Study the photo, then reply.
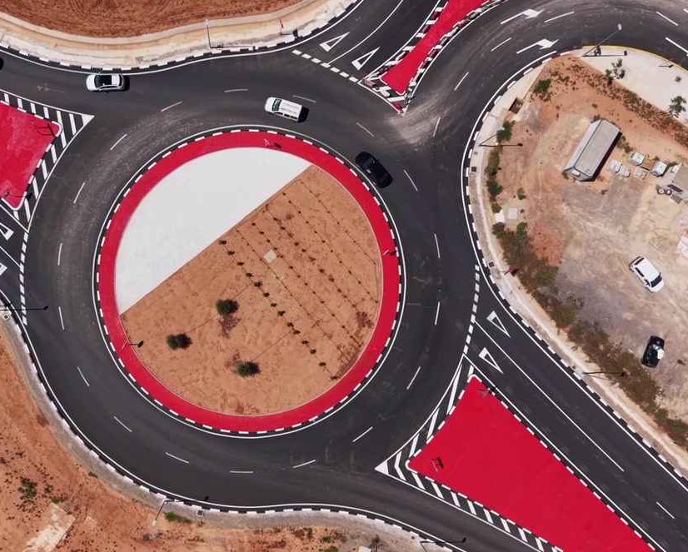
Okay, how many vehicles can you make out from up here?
5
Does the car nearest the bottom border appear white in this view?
No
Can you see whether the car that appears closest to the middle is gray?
No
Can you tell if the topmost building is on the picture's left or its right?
right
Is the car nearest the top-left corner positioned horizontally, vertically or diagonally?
horizontally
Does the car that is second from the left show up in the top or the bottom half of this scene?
top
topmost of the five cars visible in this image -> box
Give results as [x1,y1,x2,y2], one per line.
[86,72,126,93]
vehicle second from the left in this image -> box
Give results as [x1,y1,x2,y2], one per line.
[264,98,305,123]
